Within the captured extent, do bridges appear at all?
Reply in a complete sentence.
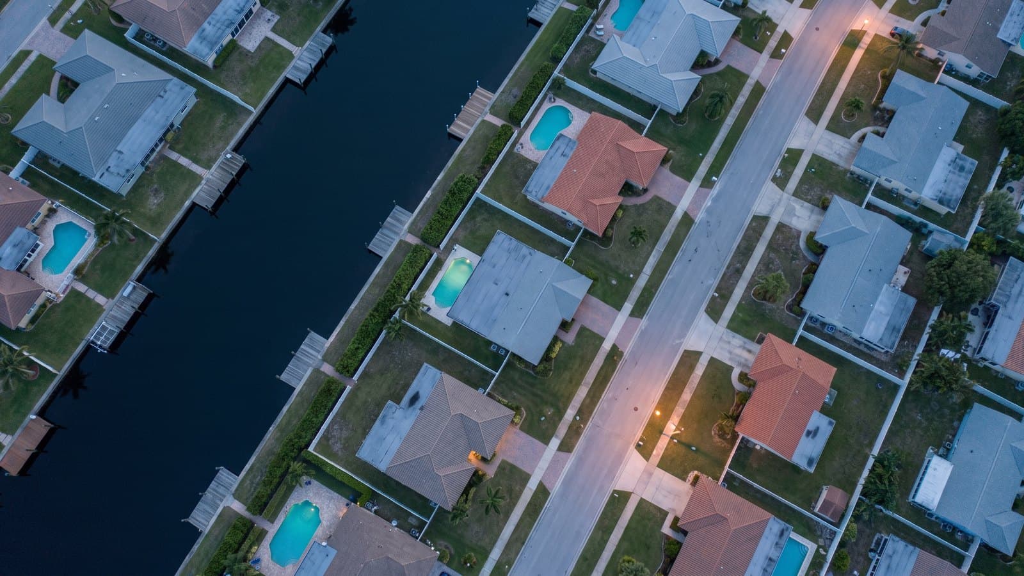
No, the frame has no bridge in it.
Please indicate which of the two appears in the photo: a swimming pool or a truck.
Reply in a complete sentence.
It is a swimming pool that can be seen here.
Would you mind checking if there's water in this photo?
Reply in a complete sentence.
Yes, some water is visible.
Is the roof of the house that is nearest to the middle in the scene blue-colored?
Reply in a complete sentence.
Yes, blue is the color of the roof of the house that is nearest to the middle.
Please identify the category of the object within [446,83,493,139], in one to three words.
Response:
pier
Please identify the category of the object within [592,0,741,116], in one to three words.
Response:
house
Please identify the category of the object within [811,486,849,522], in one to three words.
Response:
shed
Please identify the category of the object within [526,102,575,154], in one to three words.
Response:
swimming pool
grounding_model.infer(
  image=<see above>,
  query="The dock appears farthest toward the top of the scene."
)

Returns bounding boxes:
[526,0,556,23]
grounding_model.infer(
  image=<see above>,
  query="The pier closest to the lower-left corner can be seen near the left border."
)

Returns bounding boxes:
[0,415,62,476]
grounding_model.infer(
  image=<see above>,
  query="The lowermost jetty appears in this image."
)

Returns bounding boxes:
[183,465,238,530]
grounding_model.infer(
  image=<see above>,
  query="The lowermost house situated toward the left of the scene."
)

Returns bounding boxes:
[292,504,439,576]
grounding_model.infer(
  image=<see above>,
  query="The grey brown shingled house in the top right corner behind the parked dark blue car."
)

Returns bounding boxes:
[913,0,1024,84]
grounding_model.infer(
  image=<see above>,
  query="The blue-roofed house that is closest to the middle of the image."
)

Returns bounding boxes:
[447,230,594,365]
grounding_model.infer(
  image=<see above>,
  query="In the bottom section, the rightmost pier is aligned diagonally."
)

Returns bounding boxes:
[277,328,327,388]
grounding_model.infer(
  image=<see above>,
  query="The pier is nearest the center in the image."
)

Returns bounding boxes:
[365,201,411,257]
